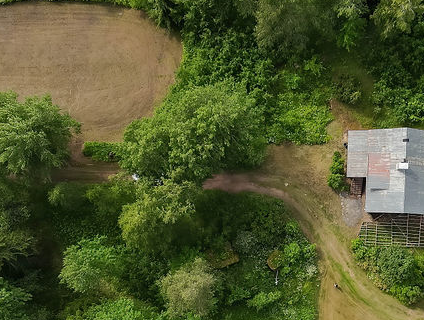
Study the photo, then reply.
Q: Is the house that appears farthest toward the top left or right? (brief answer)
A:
right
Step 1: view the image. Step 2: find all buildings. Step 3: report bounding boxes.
[346,127,424,215]
[208,246,240,268]
[267,251,281,270]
